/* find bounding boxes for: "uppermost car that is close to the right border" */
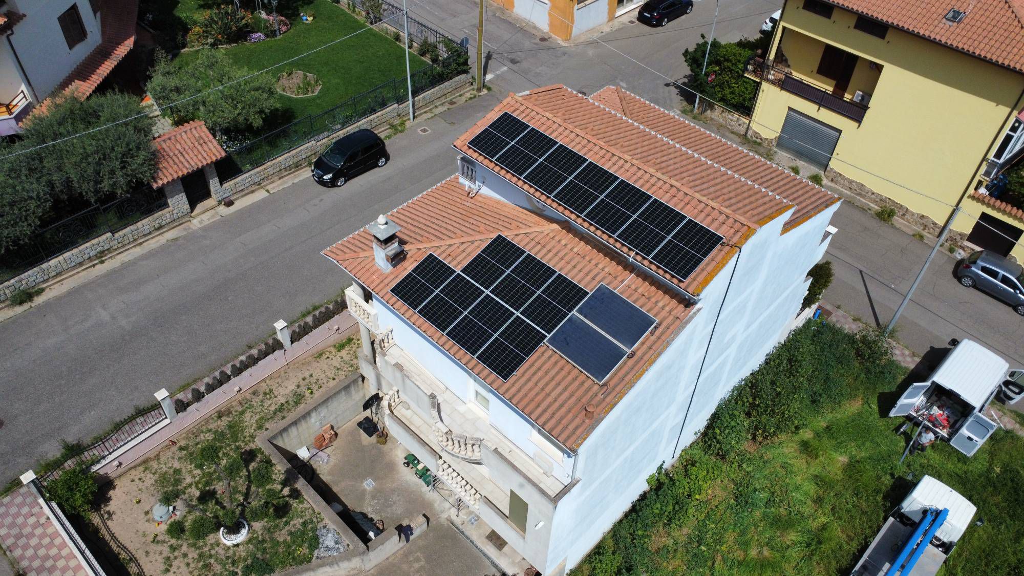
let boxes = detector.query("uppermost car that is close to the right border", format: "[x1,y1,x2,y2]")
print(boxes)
[958,246,1024,316]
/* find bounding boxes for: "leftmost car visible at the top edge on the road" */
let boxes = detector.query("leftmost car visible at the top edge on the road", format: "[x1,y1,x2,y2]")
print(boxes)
[637,0,697,28]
